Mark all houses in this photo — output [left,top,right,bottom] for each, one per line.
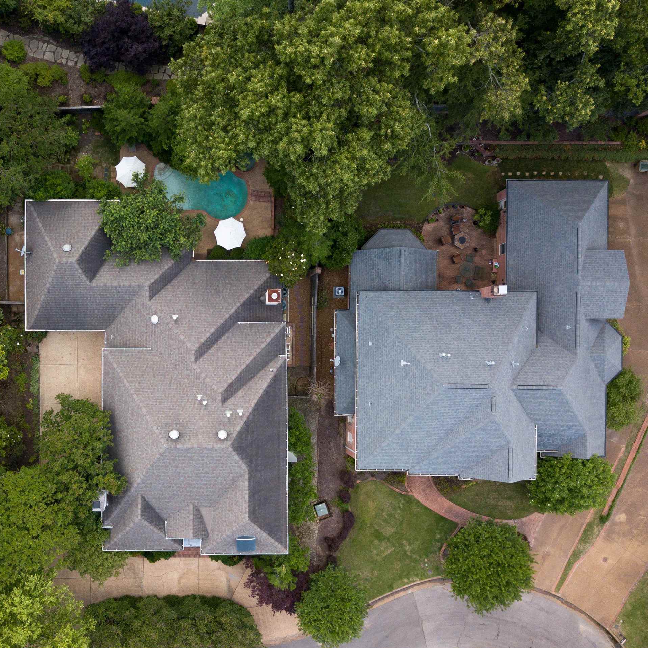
[332,179,630,483]
[24,199,297,556]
